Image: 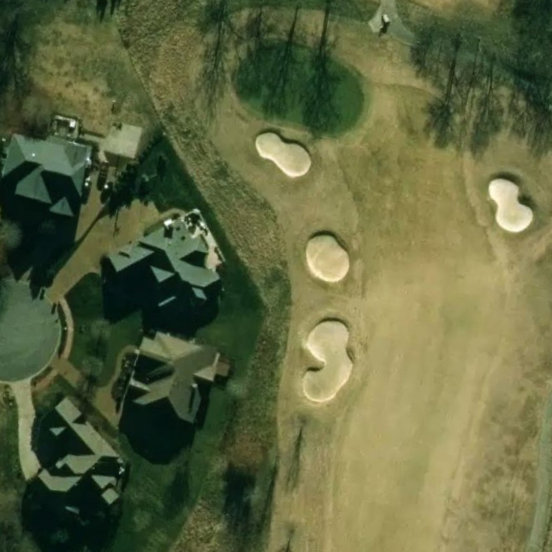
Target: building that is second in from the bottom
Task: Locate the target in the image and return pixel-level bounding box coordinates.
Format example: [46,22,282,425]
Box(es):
[126,336,218,435]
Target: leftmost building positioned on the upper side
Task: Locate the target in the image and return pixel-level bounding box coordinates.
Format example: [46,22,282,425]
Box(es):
[2,134,96,217]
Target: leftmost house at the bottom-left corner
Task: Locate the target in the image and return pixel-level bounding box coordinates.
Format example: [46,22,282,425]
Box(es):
[25,393,125,519]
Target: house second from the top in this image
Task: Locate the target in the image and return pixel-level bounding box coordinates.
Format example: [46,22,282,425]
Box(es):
[106,220,226,329]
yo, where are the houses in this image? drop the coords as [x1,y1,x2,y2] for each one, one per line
[2,134,96,217]
[25,393,125,519]
[106,220,226,329]
[126,336,218,435]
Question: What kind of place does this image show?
golf course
